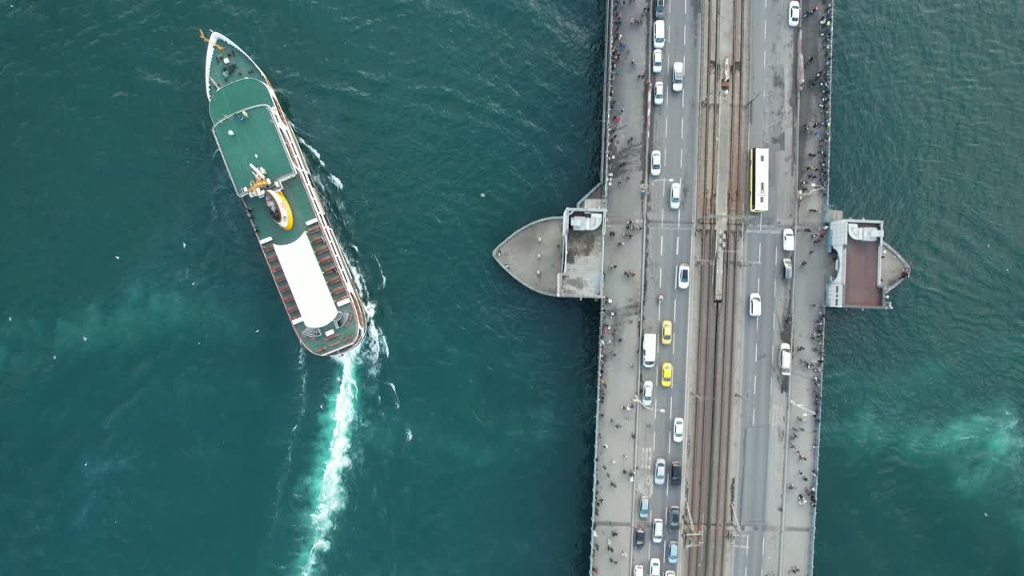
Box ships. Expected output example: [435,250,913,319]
[199,28,367,355]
